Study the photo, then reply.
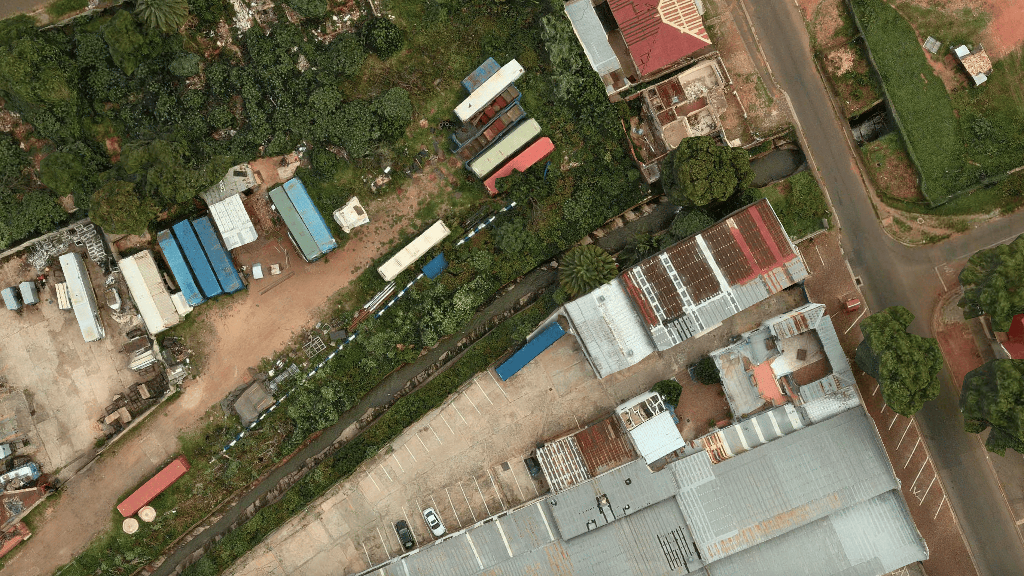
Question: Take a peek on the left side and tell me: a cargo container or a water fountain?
cargo container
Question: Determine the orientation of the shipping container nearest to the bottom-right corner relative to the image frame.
at an angle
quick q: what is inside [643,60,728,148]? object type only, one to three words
house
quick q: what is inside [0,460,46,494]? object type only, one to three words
truck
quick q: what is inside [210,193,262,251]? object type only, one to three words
shed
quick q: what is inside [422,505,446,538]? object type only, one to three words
car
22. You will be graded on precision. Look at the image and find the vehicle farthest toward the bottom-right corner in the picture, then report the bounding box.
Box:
[524,454,542,479]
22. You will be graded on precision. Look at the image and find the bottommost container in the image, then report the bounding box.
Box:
[117,456,190,517]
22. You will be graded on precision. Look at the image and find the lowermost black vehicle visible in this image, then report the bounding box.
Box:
[396,518,415,550]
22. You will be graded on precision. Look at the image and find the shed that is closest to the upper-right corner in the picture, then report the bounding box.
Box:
[949,45,993,87]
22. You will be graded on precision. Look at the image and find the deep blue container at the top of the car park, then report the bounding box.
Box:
[495,320,564,380]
